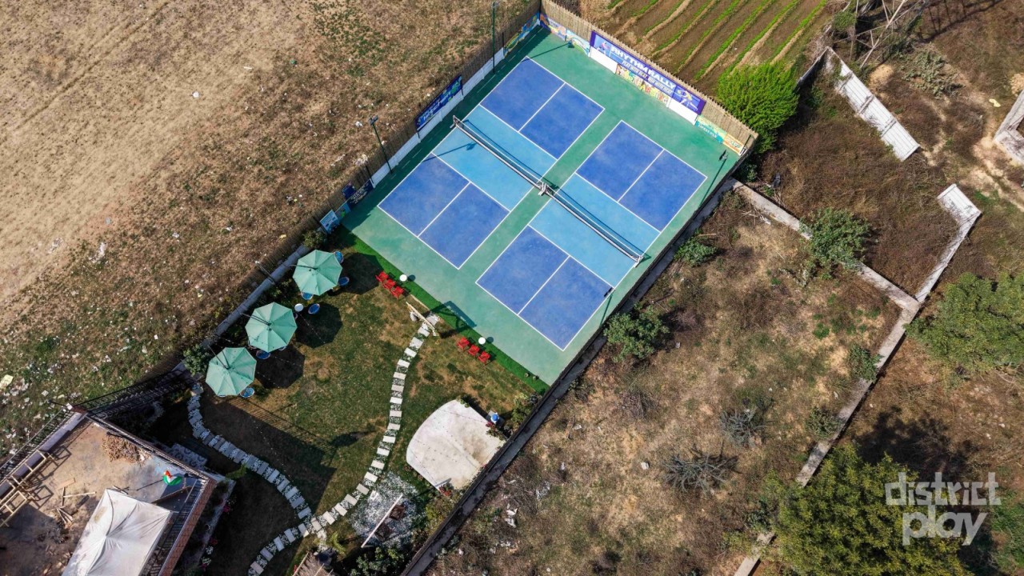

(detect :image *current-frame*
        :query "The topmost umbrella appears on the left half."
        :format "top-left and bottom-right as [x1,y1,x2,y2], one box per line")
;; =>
[288,248,343,294]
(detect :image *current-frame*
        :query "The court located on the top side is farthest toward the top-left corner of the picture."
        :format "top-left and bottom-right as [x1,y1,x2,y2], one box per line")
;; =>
[378,56,605,269]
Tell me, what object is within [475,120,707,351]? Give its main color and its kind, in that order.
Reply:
blue sports court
